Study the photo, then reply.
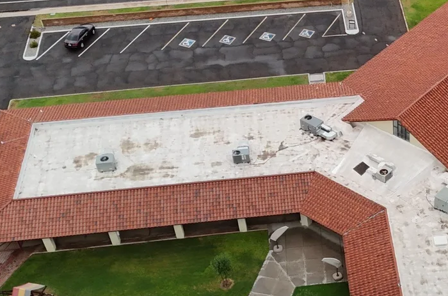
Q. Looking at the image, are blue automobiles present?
No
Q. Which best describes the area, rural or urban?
urban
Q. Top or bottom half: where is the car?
top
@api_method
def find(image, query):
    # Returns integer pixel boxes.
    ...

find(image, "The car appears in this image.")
[61,21,96,48]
